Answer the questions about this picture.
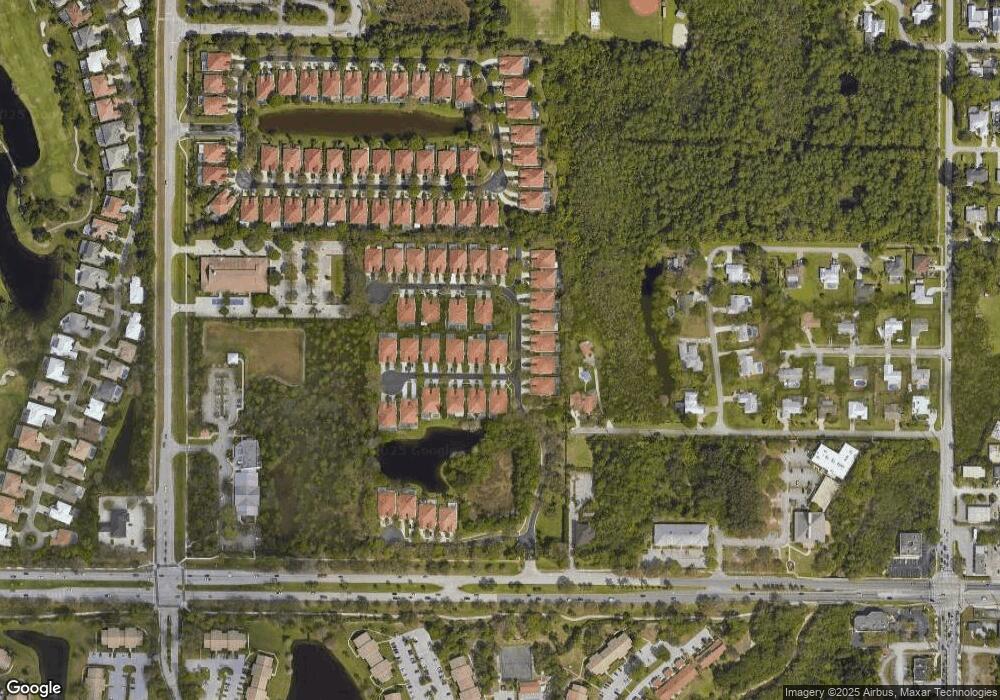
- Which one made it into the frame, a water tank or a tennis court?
tennis court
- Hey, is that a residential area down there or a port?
residential area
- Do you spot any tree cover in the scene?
Yes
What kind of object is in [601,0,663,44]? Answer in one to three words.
baseball field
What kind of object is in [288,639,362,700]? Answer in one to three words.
pond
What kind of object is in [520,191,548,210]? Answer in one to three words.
house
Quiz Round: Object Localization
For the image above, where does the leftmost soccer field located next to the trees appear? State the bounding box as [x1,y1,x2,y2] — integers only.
[509,0,575,43]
